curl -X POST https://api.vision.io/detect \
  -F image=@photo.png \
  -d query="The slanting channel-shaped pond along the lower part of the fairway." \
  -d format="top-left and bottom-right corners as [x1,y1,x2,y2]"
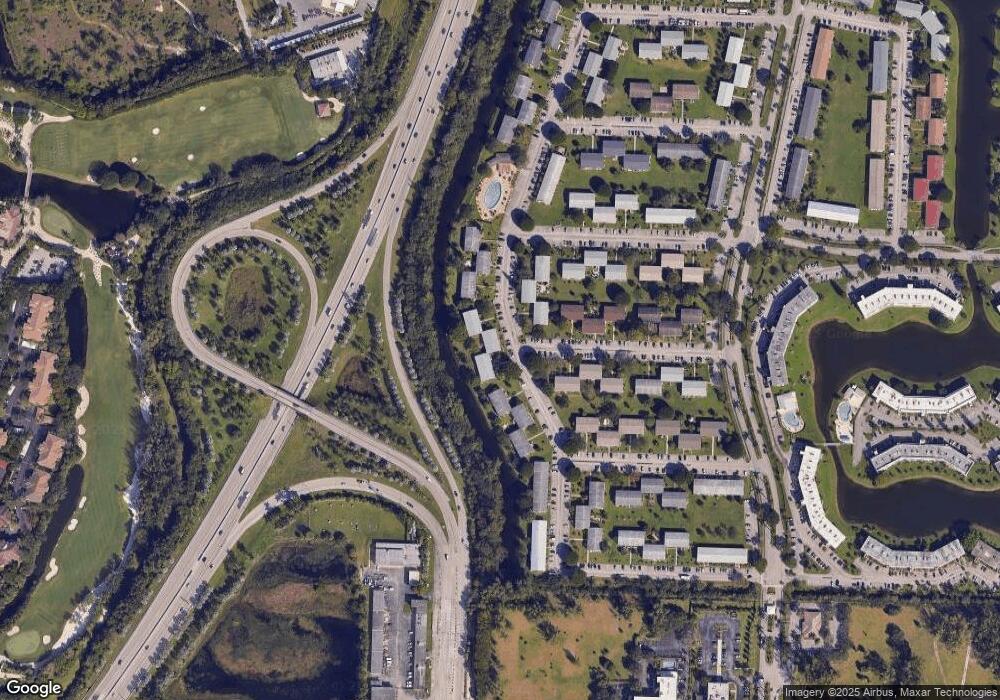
[0,465,84,627]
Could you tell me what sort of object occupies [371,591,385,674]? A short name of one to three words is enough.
shed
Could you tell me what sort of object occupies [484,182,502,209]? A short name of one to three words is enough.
swimming pool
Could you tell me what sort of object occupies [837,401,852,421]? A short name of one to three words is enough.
swimming pool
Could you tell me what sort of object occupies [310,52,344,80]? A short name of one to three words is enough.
building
